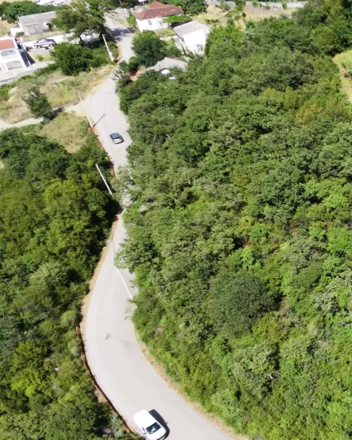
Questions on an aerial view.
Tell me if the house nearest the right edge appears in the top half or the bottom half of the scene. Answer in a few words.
top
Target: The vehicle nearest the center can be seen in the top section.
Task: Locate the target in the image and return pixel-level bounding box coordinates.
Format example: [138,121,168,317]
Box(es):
[106,129,124,144]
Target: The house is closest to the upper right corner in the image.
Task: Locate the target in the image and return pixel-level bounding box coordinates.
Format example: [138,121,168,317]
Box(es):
[171,8,221,52]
